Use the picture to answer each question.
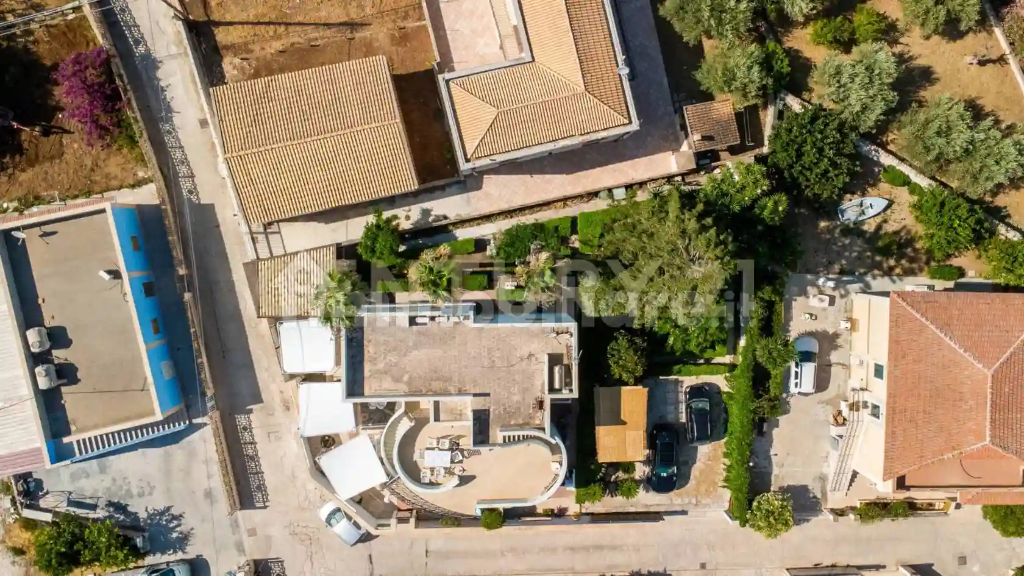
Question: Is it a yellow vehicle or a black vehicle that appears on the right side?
black vehicle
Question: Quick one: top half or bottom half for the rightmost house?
bottom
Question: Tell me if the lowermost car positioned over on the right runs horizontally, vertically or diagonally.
vertically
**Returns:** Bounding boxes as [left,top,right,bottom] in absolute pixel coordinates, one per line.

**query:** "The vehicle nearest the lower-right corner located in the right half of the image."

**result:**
[785,331,824,395]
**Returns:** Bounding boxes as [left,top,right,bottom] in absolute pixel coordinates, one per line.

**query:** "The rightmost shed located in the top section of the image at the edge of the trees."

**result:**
[678,97,740,152]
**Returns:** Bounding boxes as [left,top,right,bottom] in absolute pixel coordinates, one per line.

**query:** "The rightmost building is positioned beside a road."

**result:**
[848,290,1024,496]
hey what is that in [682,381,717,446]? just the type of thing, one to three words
car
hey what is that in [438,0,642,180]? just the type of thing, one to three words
house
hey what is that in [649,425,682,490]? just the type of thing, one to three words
car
